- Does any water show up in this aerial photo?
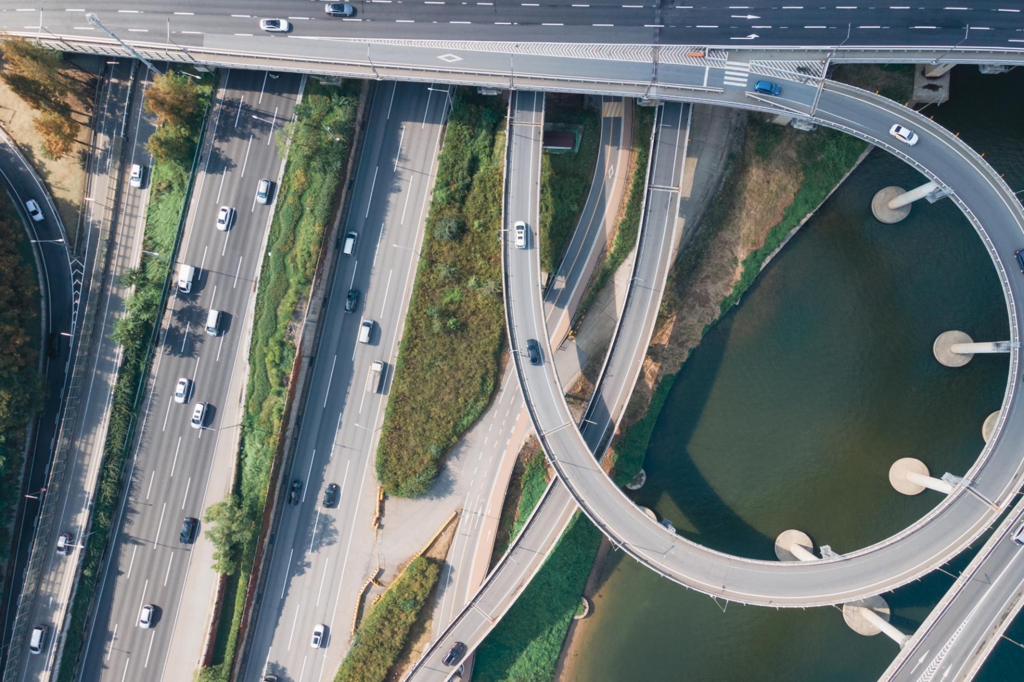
Yes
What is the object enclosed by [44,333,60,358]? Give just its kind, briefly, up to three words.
vehicle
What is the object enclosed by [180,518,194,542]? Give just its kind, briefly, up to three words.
car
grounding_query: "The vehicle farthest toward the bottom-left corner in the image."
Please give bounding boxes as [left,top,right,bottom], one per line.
[28,627,45,653]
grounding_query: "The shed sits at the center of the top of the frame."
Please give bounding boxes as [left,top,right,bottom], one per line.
[542,127,575,146]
